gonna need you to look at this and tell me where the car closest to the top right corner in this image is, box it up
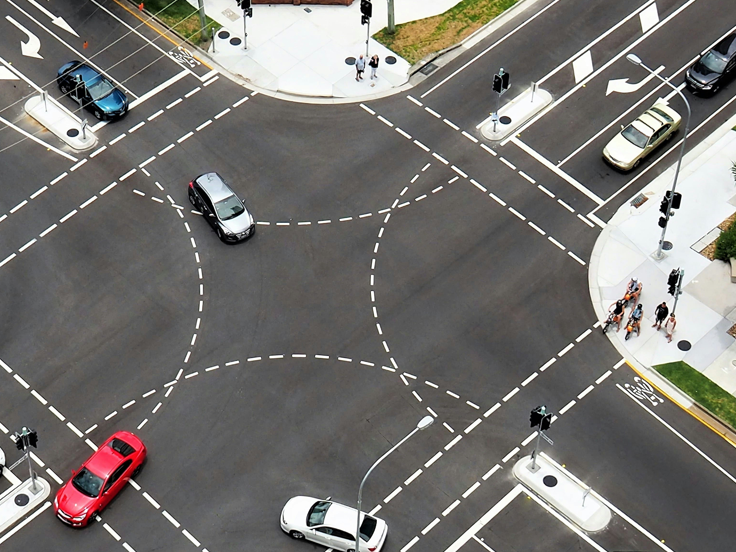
[683,30,736,95]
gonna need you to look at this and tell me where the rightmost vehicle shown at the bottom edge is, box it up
[277,495,391,552]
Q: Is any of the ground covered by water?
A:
No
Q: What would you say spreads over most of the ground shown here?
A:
paved ground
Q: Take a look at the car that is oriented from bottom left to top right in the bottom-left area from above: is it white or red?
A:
red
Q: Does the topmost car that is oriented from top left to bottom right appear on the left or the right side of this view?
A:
left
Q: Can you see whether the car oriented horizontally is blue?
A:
No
